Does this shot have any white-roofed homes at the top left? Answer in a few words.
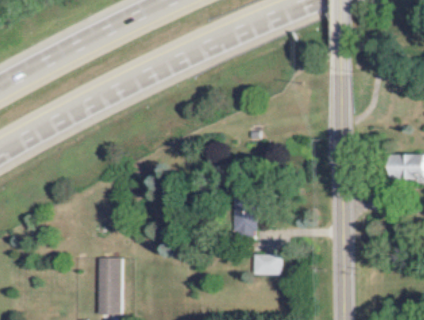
No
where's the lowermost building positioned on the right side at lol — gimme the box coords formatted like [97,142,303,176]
[254,254,285,276]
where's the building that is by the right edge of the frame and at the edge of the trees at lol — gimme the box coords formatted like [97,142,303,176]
[386,154,424,184]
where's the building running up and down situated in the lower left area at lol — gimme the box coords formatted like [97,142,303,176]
[98,257,126,314]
